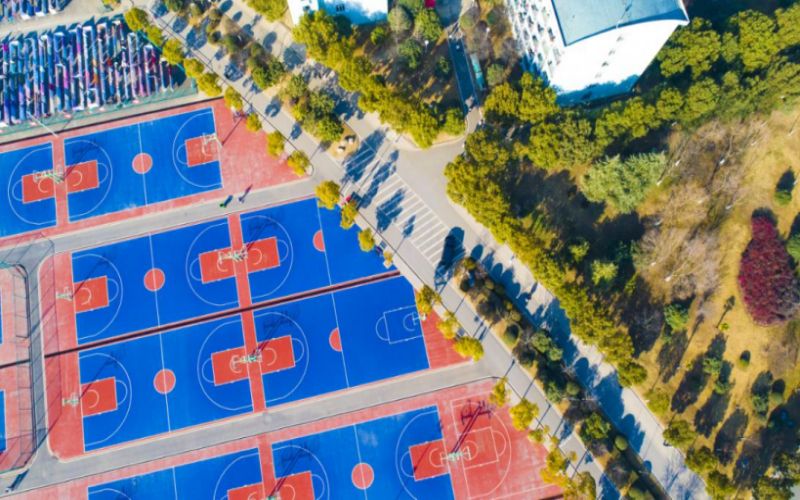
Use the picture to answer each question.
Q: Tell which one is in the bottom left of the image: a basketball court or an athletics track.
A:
basketball court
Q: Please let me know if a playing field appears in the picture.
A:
Yes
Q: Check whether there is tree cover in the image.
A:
Yes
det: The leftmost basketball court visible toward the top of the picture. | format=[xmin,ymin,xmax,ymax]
[0,141,56,238]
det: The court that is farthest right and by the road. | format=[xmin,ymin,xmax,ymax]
[449,390,562,500]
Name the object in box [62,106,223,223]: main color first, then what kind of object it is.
blue basketball court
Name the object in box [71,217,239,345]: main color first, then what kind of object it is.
blue basketball court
